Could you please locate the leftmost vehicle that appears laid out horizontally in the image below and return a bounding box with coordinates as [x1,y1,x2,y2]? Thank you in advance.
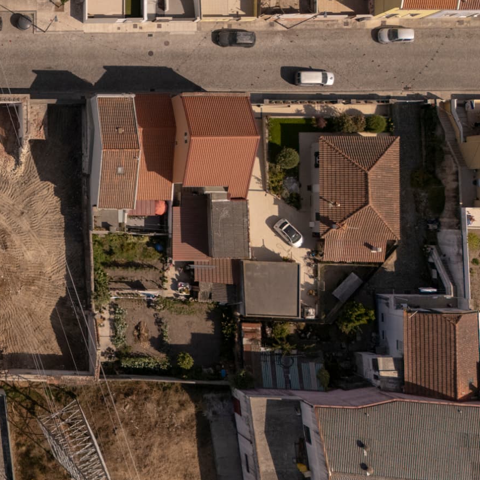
[214,30,255,48]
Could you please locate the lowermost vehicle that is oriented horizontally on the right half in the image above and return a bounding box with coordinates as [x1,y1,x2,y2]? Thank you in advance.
[294,69,332,87]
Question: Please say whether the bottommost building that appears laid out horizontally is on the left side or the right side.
right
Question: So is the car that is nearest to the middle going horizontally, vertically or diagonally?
diagonally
